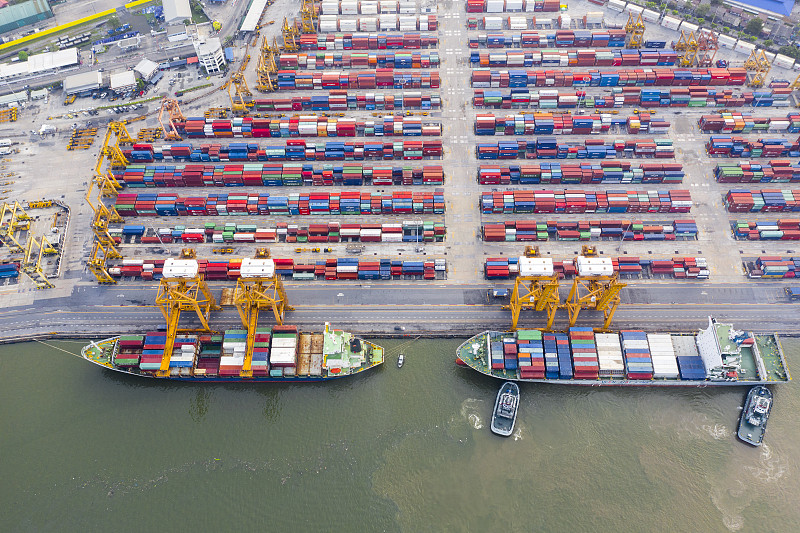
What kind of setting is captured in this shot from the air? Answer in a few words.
port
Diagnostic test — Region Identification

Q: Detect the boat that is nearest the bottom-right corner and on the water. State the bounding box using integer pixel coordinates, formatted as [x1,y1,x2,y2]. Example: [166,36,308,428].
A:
[738,386,773,447]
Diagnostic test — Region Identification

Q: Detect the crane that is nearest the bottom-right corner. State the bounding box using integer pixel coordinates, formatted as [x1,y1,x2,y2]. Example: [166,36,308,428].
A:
[559,247,635,331]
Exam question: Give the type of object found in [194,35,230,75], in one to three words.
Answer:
building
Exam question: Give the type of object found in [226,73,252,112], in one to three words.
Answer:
crane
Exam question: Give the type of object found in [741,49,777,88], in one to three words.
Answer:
crane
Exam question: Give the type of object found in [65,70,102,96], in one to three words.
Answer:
shed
